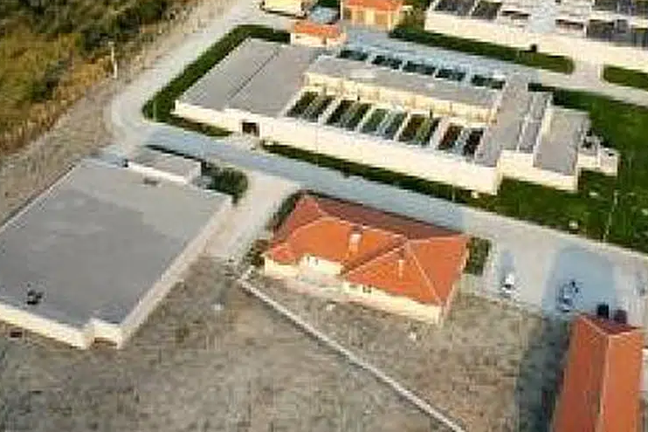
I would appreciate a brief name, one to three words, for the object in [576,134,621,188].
building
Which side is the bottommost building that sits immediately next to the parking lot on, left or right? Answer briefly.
right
